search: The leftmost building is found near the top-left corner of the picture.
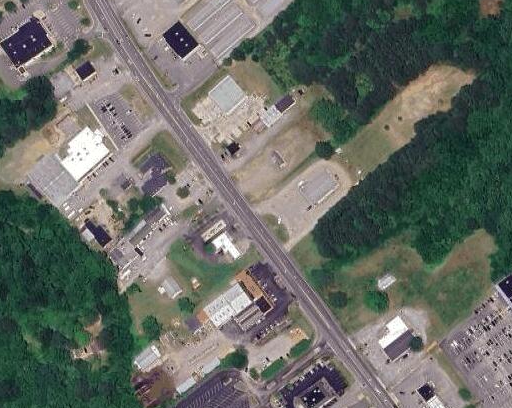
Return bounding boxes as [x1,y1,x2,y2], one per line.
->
[0,11,54,75]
